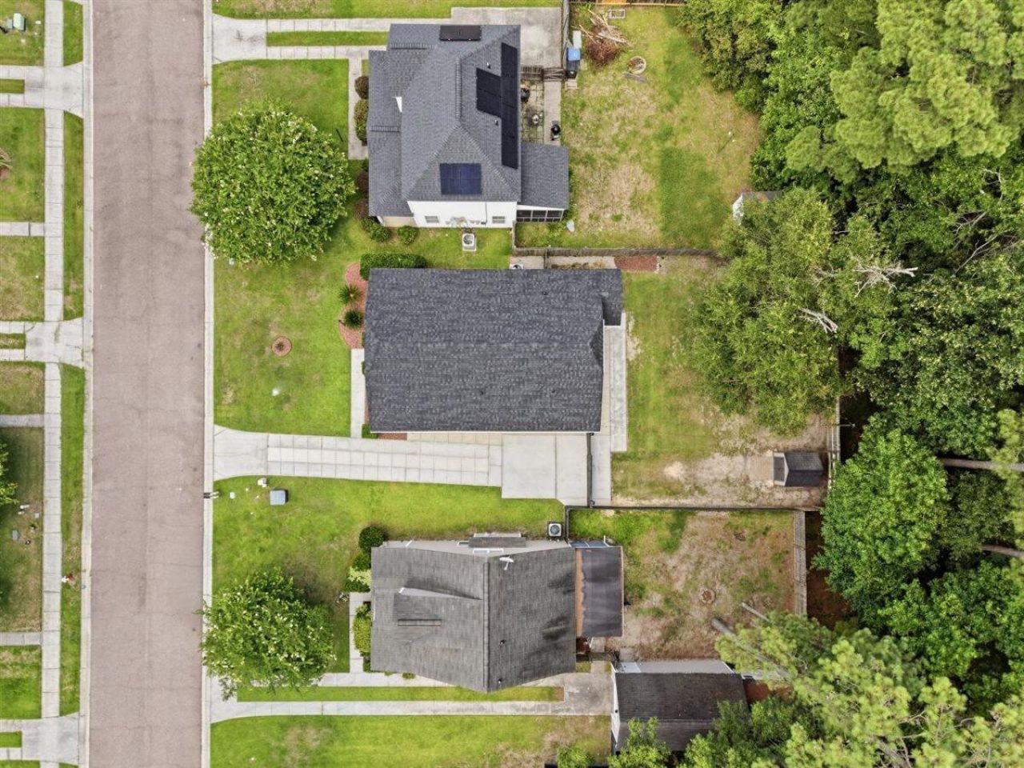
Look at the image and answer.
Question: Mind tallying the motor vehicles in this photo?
none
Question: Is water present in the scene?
No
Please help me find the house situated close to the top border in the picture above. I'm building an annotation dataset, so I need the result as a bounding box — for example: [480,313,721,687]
[365,22,568,226]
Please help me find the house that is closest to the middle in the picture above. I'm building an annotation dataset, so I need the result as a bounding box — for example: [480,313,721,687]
[364,269,624,434]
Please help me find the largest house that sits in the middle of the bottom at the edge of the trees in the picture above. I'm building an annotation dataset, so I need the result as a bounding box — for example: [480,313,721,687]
[372,534,624,692]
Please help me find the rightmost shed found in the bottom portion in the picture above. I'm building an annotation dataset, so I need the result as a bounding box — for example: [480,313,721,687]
[774,451,827,485]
